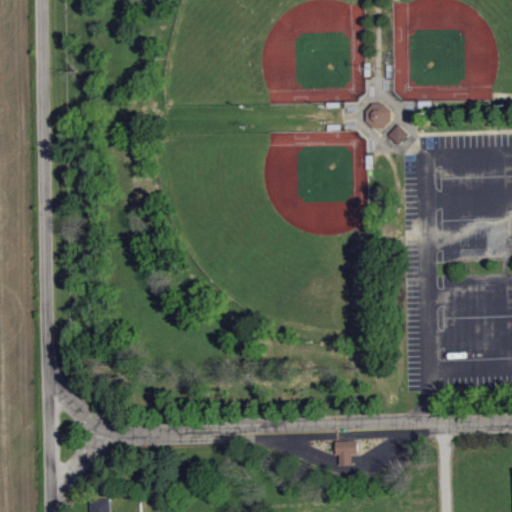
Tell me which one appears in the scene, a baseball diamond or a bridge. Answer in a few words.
baseball diamond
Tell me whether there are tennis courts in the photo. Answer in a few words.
No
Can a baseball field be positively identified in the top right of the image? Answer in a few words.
Yes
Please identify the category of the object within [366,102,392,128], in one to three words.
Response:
building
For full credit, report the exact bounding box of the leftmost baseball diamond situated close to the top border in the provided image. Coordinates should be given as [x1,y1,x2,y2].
[166,0,366,105]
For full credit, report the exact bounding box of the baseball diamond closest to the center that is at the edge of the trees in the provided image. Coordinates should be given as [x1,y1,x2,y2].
[164,132,368,333]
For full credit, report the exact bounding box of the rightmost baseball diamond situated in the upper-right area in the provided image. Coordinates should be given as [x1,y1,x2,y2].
[394,0,512,101]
